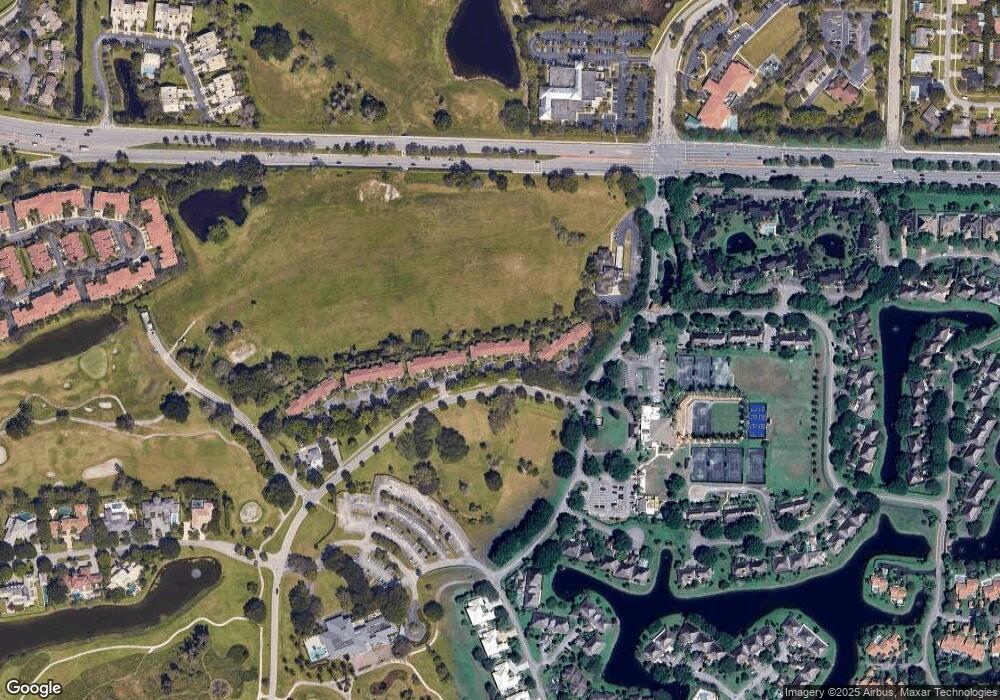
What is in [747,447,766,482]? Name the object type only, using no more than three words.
tennis court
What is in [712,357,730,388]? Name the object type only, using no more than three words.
tennis court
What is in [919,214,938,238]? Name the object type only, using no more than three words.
house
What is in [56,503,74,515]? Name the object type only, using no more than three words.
swimming pool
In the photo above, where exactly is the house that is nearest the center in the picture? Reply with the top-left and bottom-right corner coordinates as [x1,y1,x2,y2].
[470,340,531,359]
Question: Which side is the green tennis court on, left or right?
right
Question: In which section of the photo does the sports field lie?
right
